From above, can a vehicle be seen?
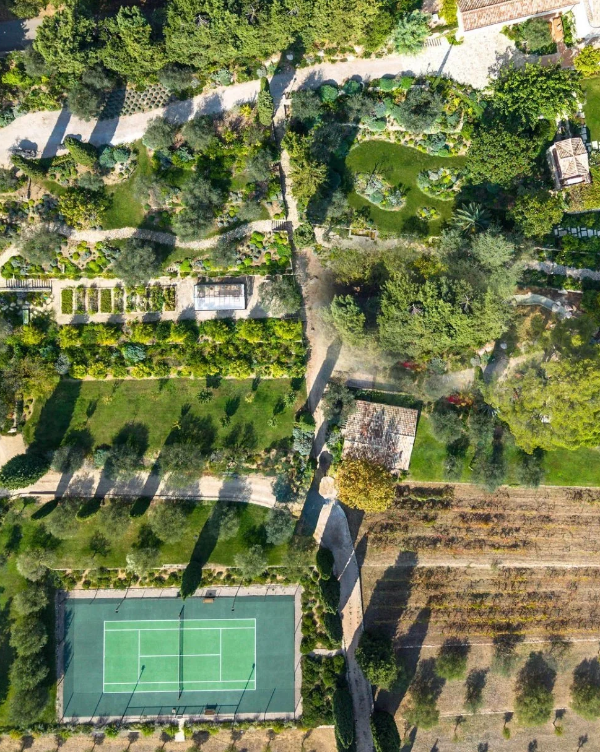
No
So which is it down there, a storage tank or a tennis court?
tennis court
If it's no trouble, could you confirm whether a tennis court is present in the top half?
No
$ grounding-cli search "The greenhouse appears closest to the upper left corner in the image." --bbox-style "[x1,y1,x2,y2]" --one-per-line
[194,283,248,311]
